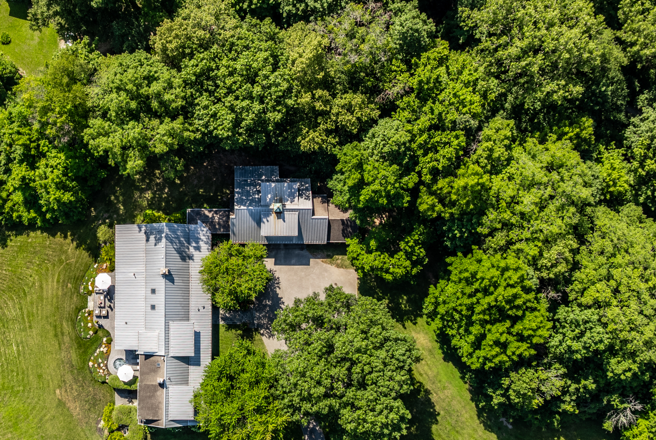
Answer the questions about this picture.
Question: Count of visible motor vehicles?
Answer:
none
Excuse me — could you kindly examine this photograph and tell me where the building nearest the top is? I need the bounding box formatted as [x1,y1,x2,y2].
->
[230,165,360,244]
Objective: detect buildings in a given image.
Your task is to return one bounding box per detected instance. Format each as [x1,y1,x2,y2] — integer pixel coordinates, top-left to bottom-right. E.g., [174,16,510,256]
[230,165,360,244]
[114,222,213,428]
